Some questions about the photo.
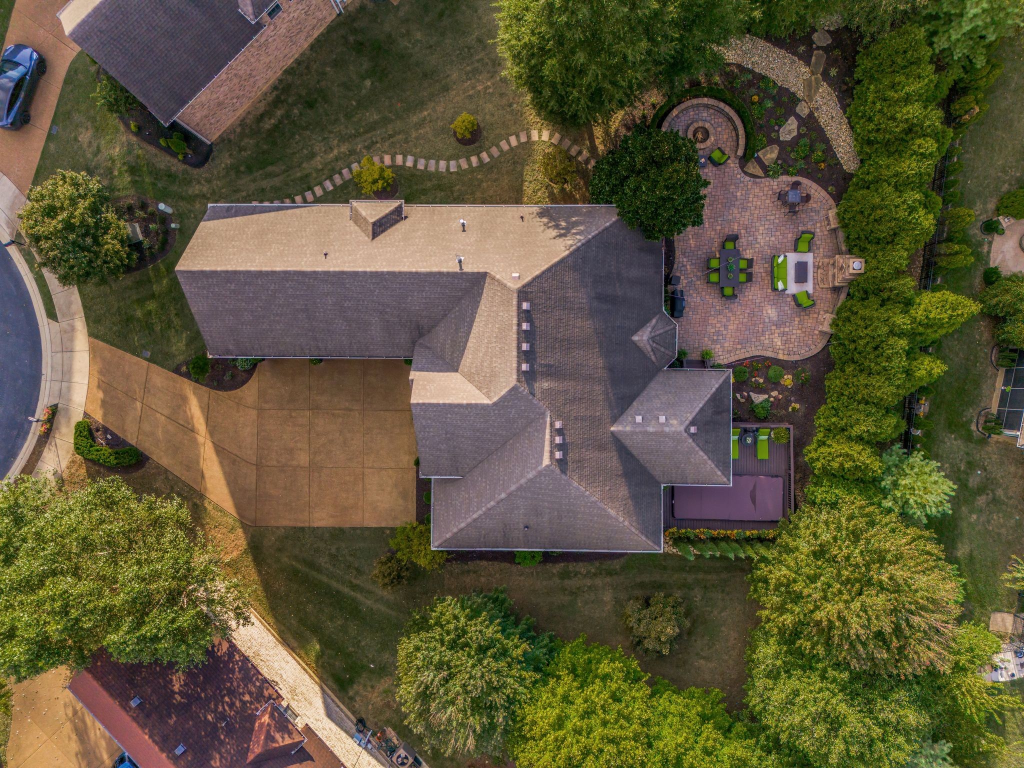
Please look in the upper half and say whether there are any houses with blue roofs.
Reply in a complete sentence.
No, no house with a blue roof can be made out in the upper half.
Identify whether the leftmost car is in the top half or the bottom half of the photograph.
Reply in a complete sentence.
You can find the leftmost car in the top half.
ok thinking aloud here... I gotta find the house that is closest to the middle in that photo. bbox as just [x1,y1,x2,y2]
[179,198,734,554]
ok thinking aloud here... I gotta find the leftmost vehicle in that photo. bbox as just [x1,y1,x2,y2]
[0,40,50,131]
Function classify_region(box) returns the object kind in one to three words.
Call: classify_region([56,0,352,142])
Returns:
house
